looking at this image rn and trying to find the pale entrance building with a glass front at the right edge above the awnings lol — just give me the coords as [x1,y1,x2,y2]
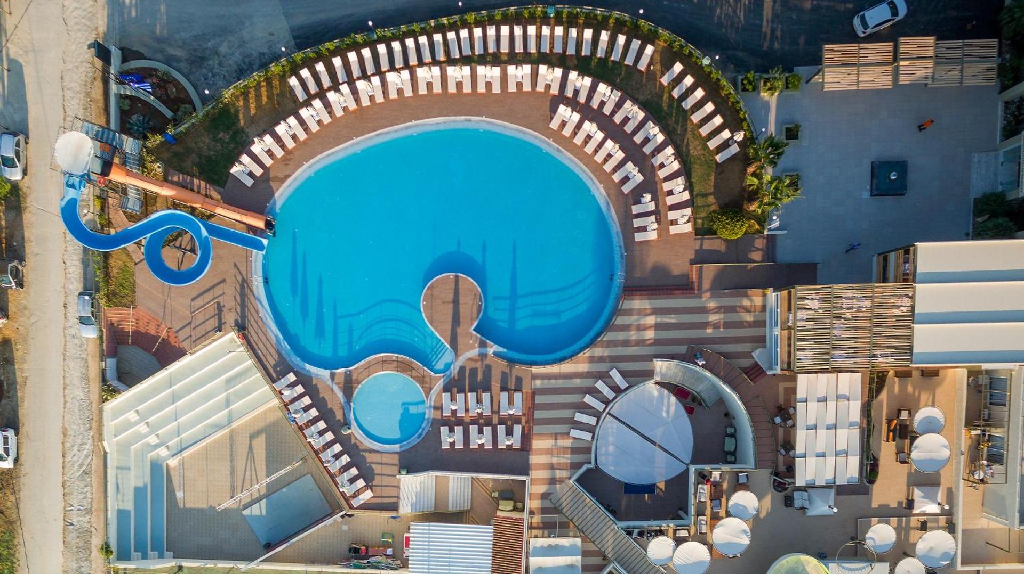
[983,138,1024,203]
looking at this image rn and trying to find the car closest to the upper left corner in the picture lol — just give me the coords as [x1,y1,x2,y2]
[0,130,29,181]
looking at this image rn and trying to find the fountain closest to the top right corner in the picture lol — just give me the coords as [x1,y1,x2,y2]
[872,159,910,195]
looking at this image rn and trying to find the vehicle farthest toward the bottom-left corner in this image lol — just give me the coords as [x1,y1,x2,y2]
[0,424,22,471]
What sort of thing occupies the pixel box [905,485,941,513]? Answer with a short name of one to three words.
umbrella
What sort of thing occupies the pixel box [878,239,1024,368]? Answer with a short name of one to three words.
building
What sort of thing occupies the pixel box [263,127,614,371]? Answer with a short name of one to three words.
swimming pool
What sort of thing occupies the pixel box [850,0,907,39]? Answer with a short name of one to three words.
car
